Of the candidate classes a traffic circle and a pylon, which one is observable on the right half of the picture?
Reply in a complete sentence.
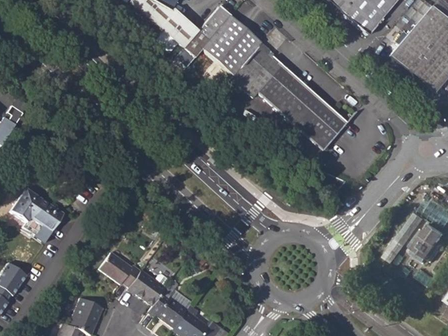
The feature located on the right half of the picture is a traffic circle.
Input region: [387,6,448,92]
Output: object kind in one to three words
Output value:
building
